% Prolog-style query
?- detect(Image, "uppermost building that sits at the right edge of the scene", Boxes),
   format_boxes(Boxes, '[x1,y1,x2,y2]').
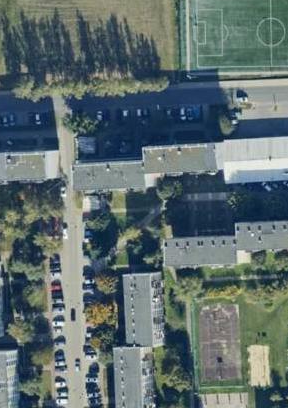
[223,137,288,183]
